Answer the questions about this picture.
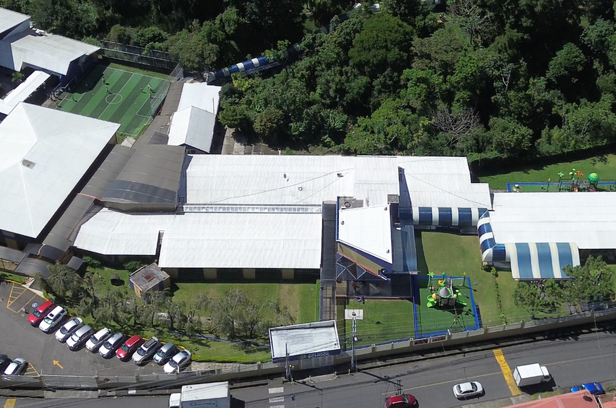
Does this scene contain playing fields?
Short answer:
Yes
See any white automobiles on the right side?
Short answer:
Yes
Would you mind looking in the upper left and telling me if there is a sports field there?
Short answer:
Yes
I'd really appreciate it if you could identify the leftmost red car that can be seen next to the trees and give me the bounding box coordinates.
[28,300,55,325]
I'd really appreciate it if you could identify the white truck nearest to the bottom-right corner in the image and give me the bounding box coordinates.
[518,362,556,388]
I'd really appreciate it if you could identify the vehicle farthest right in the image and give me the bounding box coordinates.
[570,381,606,396]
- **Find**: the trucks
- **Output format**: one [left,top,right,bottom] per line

[518,362,556,388]
[169,384,231,408]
